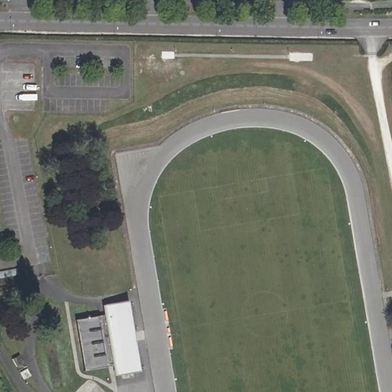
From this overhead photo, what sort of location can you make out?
sports ground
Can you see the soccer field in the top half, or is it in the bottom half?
bottom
